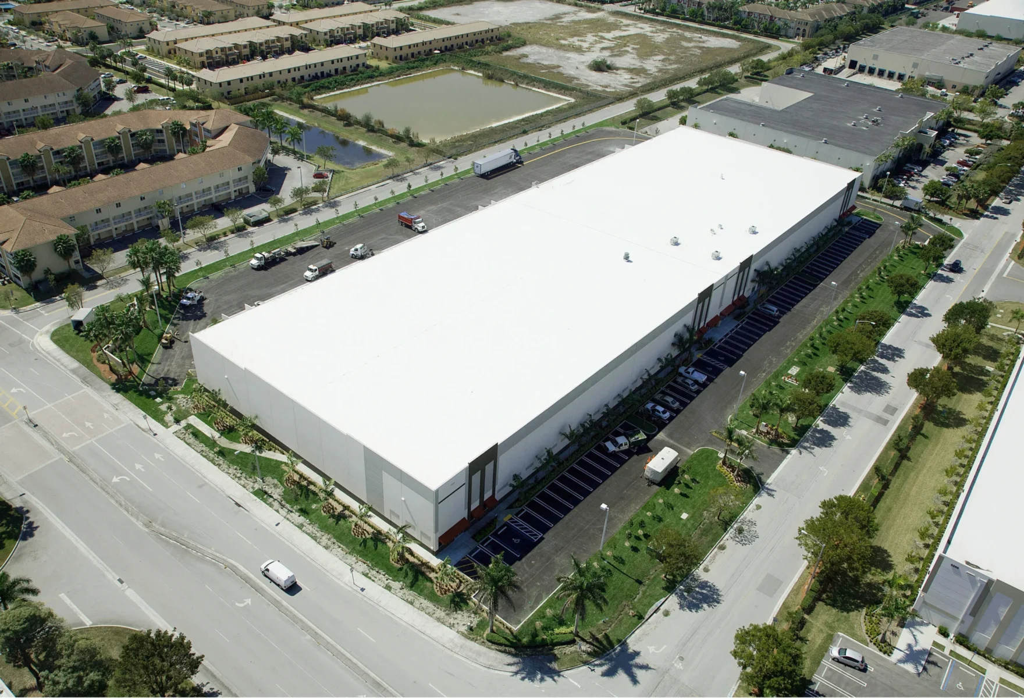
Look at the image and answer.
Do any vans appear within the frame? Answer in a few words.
Yes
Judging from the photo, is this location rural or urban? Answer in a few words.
urban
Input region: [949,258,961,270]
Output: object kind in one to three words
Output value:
vehicle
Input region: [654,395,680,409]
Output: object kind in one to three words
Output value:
car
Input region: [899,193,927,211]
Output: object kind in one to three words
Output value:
vehicle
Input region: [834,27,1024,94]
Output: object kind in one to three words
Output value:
building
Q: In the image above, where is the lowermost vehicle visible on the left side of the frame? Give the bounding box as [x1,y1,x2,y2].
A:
[263,558,302,589]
